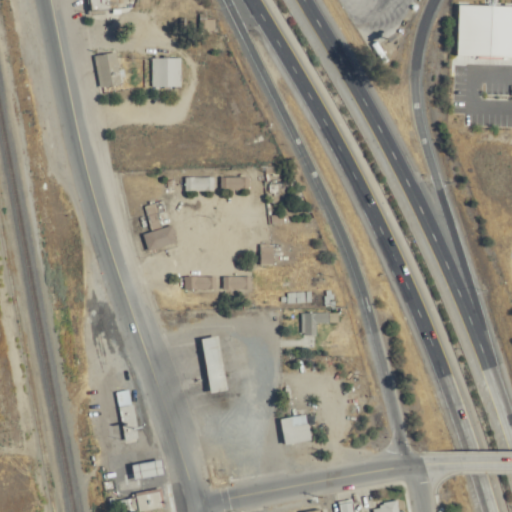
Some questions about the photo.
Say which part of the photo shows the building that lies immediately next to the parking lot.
top right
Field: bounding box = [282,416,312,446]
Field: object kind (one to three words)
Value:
building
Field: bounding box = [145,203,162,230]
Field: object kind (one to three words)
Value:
house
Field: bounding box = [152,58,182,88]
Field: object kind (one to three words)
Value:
barn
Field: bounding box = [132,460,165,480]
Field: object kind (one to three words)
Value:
building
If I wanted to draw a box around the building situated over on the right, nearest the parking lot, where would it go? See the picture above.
[458,4,512,56]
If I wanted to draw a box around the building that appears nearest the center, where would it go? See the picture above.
[260,244,274,266]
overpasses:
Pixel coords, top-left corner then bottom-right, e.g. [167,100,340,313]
[424,450,512,474]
